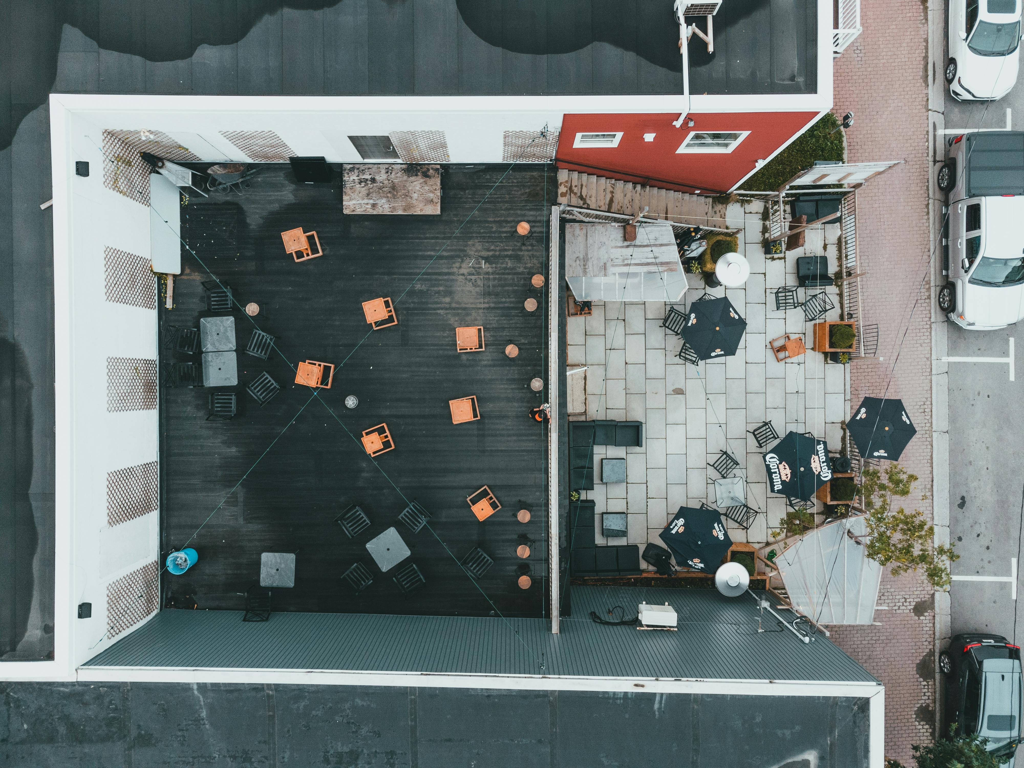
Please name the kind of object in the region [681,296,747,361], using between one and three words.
umbrella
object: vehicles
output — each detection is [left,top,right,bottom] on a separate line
[938,0,1024,103]
[936,130,1024,332]
[938,635,1024,768]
